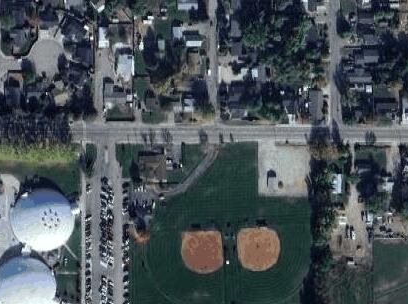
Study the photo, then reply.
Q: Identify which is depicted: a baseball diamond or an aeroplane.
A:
baseball diamond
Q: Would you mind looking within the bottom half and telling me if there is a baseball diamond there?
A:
Yes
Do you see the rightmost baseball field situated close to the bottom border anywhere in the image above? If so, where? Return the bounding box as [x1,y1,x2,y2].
[231,197,311,304]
